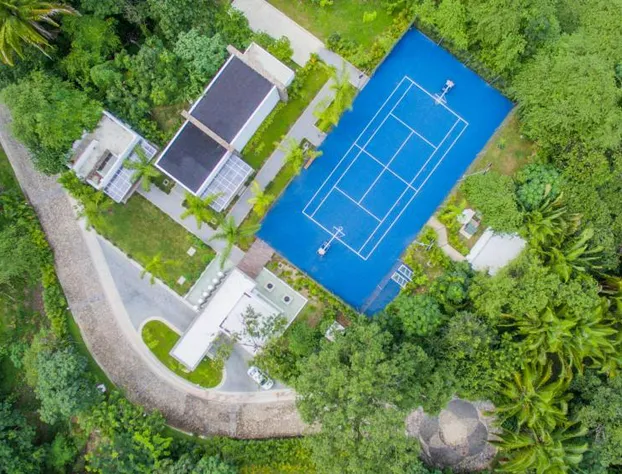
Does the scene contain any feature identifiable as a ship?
No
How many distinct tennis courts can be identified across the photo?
1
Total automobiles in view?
1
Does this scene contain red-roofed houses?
No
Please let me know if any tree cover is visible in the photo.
Yes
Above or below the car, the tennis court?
above it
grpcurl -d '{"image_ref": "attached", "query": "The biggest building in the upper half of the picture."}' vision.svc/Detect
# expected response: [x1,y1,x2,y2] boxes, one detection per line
[154,42,295,196]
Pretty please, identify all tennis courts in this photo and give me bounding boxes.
[257,27,518,321]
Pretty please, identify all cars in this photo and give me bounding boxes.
[245,364,274,391]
